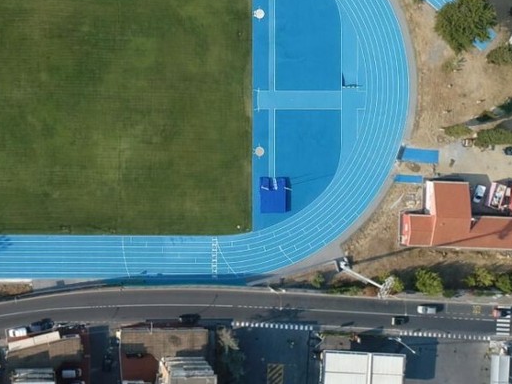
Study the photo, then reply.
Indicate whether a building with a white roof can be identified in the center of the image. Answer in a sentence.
No, the scene shows no building with a white roof in the center of the image.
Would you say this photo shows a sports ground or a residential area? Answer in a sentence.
This image shows a sports ground.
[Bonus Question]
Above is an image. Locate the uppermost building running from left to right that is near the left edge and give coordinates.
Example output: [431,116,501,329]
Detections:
[7,331,84,371]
